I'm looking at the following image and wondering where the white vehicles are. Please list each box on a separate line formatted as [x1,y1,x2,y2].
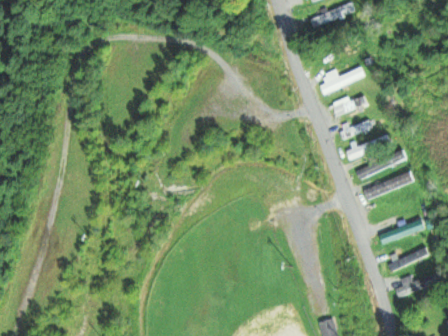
[324,54,334,64]
[314,70,325,81]
[377,255,390,262]
[338,148,345,159]
[359,194,368,206]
